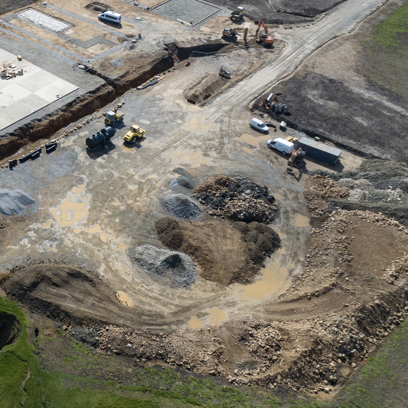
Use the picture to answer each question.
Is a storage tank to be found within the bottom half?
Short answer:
No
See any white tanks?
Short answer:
No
